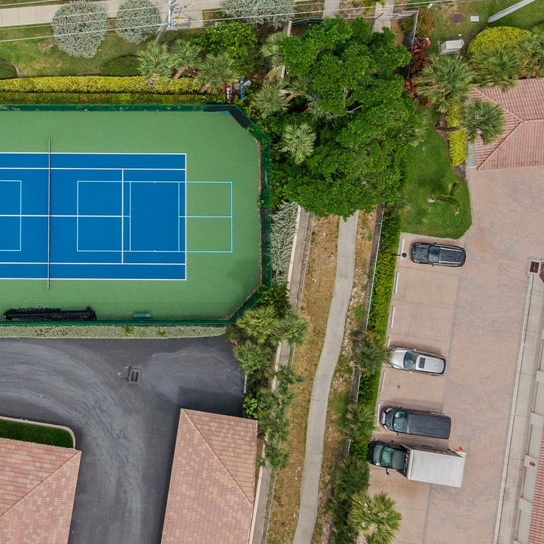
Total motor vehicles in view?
4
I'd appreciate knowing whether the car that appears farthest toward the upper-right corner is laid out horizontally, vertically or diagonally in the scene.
horizontally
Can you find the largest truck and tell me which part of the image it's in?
bottom right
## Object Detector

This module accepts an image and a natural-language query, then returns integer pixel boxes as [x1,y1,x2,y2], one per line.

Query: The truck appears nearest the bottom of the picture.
[367,438,465,486]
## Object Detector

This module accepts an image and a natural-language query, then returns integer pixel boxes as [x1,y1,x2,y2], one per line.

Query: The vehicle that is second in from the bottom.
[378,405,452,440]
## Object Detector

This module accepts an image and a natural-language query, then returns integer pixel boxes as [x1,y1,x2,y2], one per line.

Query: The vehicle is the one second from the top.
[388,348,446,375]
